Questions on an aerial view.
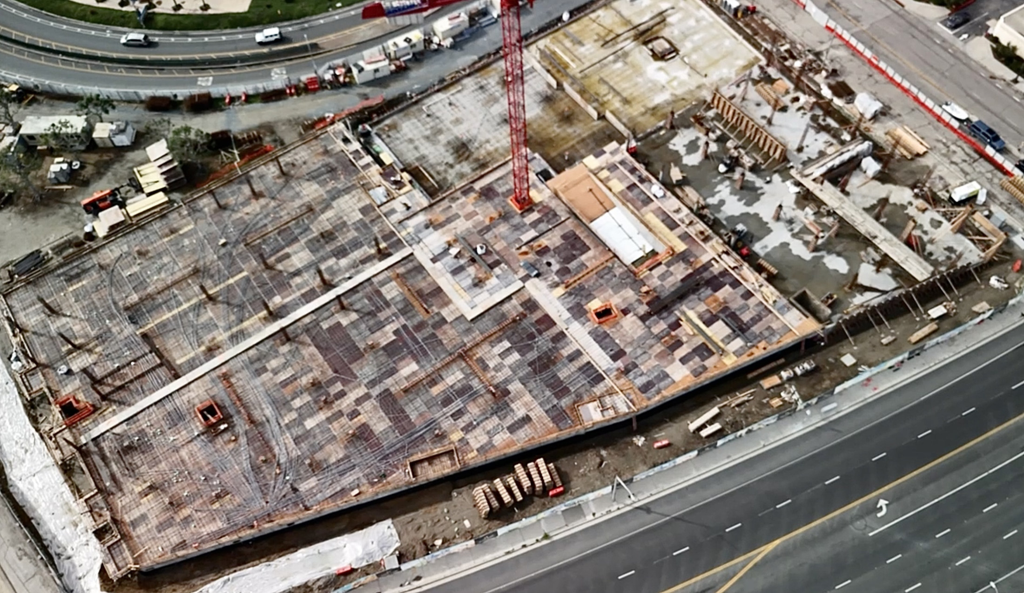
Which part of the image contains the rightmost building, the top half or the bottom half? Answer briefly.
top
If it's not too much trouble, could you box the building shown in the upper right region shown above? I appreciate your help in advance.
[982,2,1024,60]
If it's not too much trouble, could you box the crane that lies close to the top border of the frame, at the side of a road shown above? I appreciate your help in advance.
[360,0,540,217]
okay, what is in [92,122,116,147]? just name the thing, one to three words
building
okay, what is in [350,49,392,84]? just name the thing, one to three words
building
